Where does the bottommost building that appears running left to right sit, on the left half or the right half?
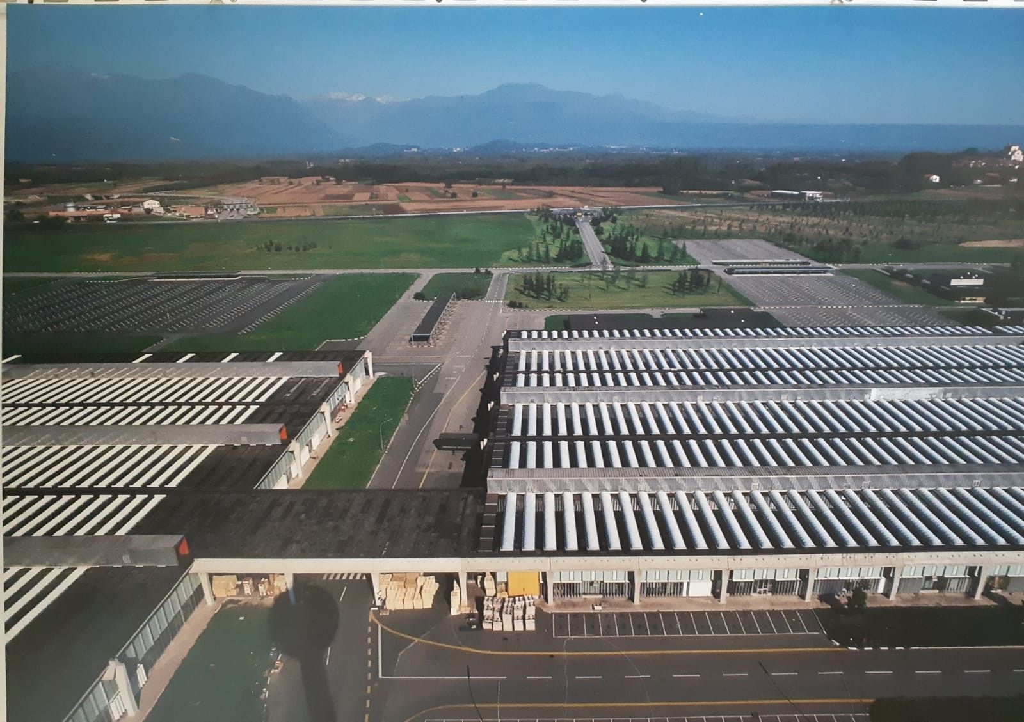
right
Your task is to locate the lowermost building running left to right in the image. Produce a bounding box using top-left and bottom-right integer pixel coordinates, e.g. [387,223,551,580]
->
[463,324,1024,602]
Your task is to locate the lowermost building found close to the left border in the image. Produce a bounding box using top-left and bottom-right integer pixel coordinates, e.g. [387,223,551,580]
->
[0,350,371,722]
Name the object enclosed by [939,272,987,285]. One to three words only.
building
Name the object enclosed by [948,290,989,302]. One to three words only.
building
